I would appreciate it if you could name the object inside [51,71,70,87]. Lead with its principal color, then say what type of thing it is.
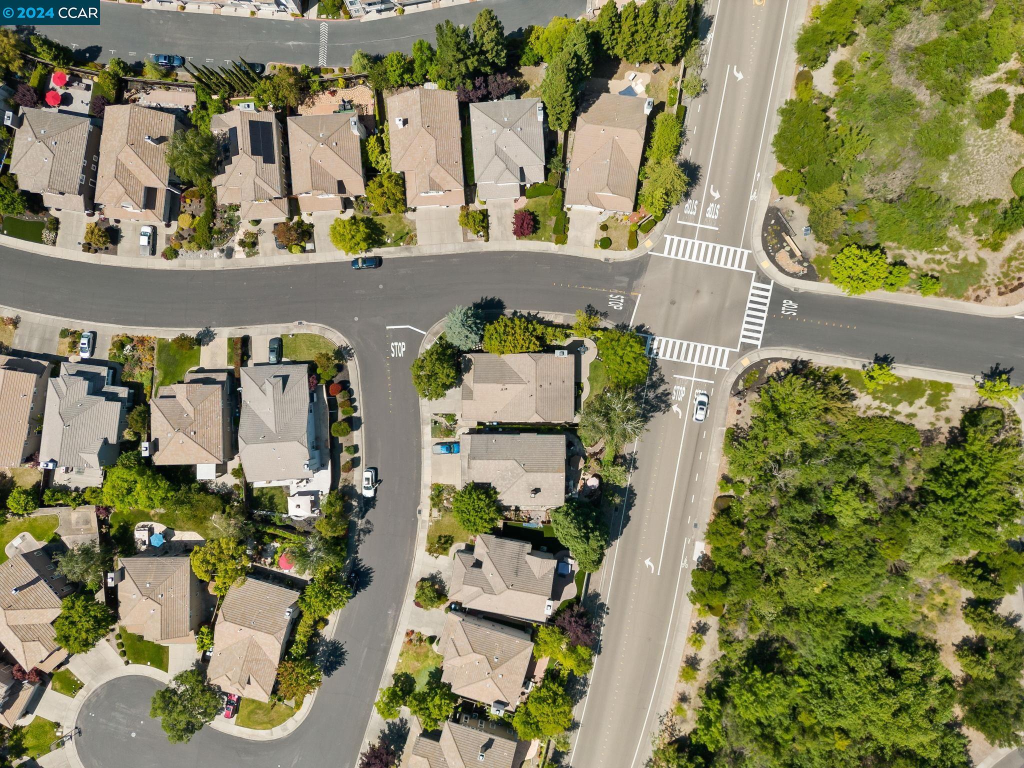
red umbrella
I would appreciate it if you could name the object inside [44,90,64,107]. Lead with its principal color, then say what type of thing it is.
red umbrella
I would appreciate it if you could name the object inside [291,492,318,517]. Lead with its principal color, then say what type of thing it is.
white gazebo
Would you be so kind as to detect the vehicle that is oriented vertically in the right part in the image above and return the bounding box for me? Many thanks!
[692,392,710,424]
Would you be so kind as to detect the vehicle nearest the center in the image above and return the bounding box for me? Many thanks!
[431,441,460,456]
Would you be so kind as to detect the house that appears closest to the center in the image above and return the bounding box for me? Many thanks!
[461,350,575,422]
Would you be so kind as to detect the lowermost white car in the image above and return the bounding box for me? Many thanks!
[362,466,382,497]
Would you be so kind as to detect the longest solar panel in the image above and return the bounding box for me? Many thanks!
[250,120,275,164]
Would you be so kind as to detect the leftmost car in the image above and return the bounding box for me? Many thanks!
[79,329,98,361]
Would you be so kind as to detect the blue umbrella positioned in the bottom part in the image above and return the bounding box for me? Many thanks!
[150,533,166,548]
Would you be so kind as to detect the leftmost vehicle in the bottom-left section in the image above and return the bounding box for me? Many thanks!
[225,694,241,720]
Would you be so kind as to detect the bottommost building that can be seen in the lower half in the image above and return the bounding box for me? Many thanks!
[400,708,518,768]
